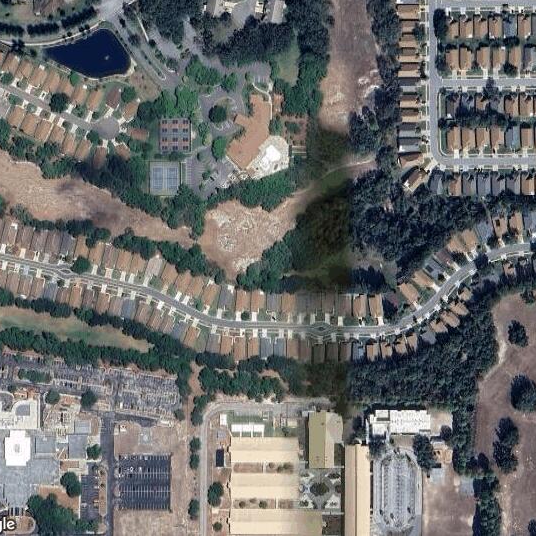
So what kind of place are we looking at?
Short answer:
residential area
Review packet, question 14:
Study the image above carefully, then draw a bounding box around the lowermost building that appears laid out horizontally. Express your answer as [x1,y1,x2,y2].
[229,510,323,534]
